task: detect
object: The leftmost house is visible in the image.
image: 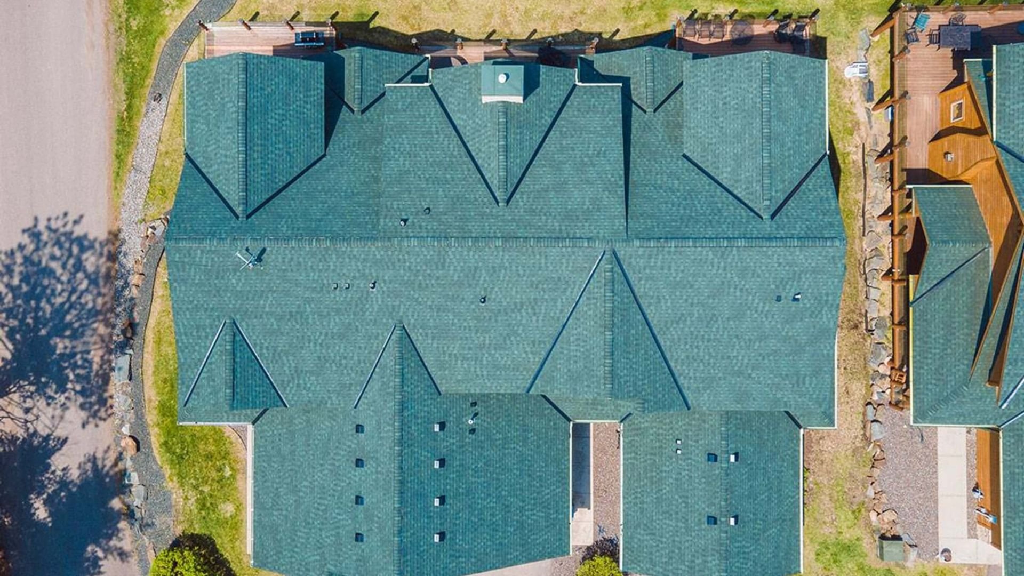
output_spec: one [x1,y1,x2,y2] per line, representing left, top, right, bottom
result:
[166,47,845,576]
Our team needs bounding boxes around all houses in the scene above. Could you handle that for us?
[166,47,845,576]
[890,34,1024,576]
